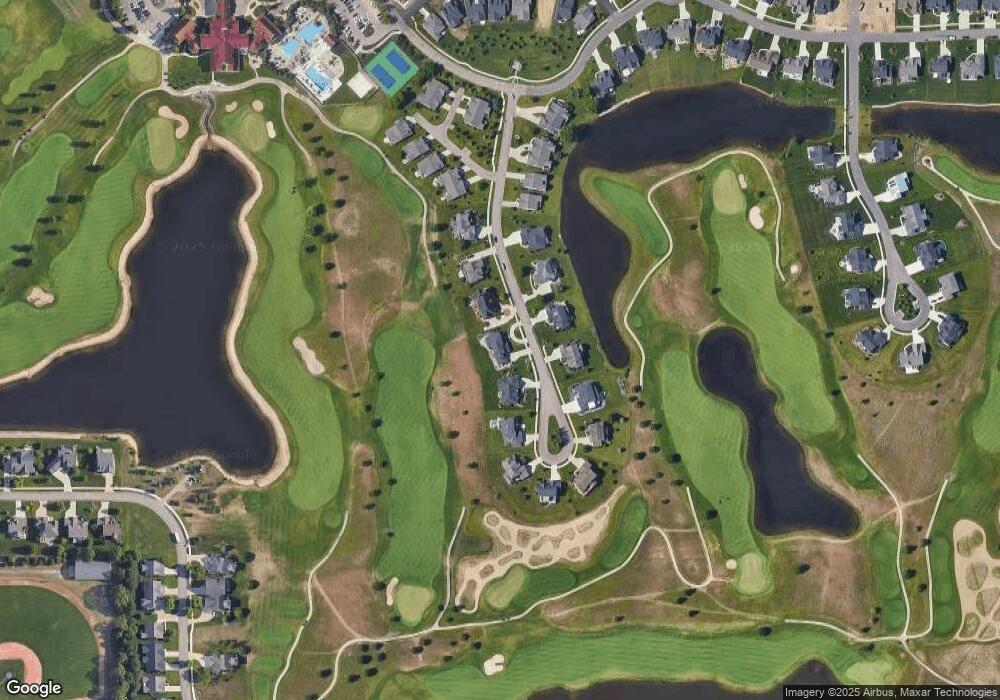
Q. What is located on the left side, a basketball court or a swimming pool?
swimming pool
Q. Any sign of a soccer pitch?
No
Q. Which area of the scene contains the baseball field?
bottom left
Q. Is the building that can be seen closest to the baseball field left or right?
left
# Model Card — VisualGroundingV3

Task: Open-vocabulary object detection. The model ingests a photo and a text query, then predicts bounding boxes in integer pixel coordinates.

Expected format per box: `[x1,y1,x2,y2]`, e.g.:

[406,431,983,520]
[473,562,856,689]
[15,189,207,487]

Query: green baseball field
[0,577,100,700]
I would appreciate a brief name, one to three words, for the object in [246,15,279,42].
building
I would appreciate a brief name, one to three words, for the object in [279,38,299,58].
swimming pool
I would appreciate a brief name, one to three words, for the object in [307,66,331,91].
swimming pool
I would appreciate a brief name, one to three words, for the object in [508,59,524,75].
gazebo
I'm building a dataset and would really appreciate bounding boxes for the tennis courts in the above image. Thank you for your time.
[387,49,410,74]
[371,64,396,89]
